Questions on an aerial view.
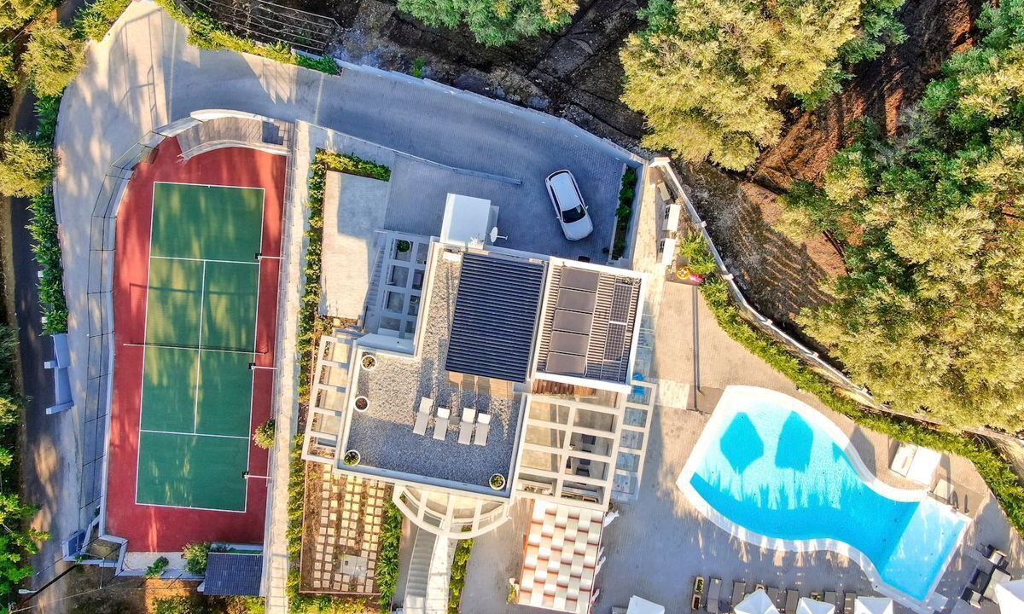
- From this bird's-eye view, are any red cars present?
No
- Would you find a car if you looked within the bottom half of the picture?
No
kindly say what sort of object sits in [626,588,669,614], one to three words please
umbrella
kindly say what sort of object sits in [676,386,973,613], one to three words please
swimming pool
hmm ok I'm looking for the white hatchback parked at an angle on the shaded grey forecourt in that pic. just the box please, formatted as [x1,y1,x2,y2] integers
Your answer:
[546,168,595,245]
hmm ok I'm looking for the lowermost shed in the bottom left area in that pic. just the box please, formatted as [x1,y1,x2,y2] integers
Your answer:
[197,540,263,596]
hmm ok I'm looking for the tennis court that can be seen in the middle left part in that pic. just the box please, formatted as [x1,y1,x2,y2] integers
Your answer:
[107,138,287,553]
